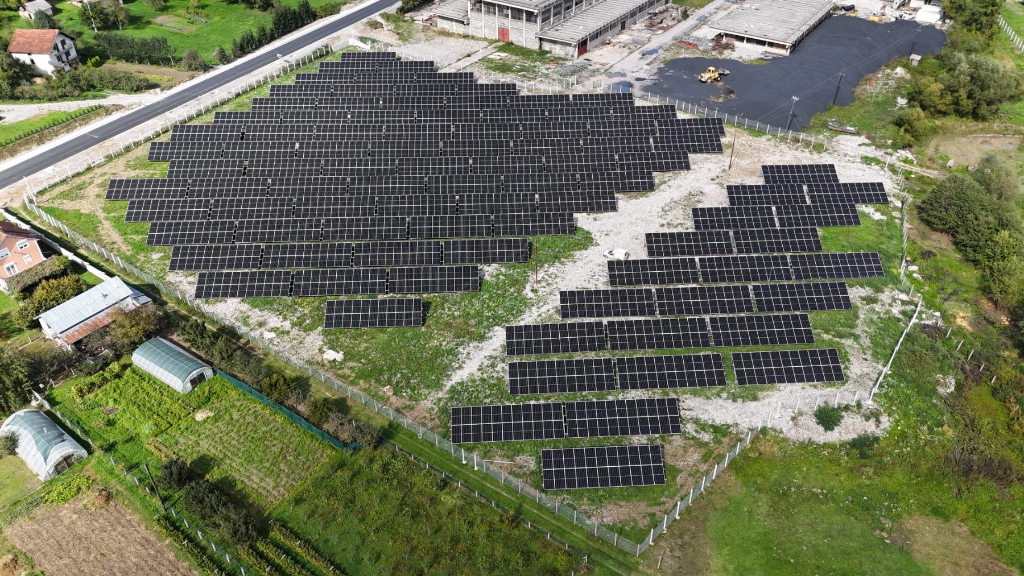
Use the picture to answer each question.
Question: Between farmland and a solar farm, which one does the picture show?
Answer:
solar farm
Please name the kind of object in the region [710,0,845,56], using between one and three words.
shed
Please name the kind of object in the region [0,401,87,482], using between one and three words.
greenhouse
